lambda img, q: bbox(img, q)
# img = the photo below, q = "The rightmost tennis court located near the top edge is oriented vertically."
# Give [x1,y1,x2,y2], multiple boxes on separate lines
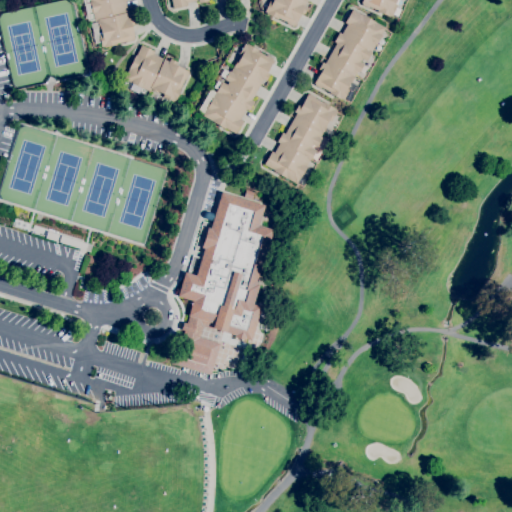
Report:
[36,0,84,77]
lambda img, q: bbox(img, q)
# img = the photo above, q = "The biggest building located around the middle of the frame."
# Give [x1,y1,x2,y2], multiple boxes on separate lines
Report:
[180,192,274,360]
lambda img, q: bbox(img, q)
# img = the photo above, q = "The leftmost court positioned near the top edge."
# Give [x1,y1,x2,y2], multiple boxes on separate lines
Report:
[0,8,49,87]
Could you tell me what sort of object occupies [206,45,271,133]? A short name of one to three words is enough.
house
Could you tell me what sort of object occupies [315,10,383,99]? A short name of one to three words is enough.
house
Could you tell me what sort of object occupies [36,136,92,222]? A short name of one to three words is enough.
tennis court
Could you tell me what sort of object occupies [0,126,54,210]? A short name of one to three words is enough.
tennis court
